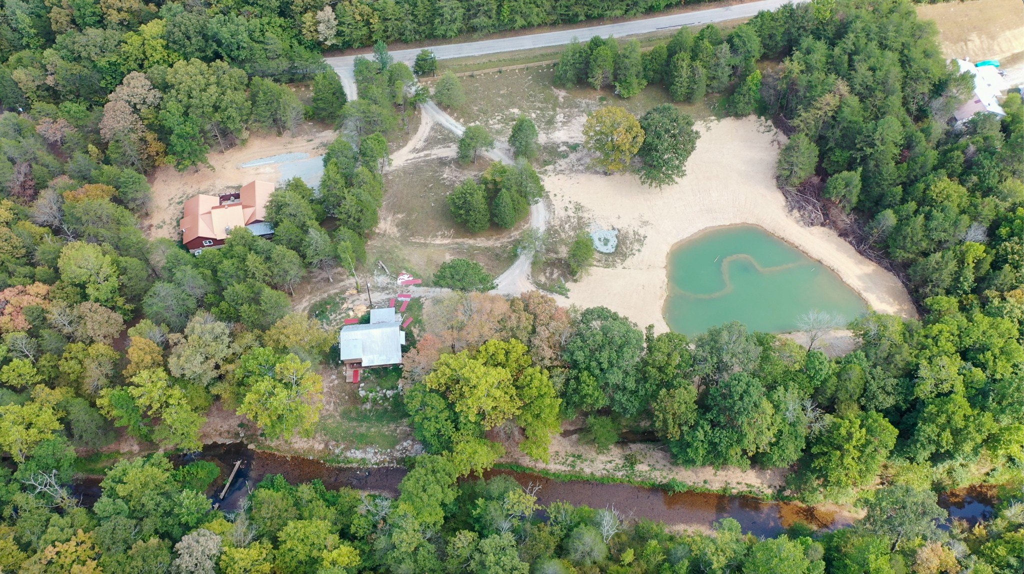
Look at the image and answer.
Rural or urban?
rural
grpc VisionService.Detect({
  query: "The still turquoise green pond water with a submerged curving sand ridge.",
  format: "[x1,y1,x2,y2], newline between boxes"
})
[671,228,861,330]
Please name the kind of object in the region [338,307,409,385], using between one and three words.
building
